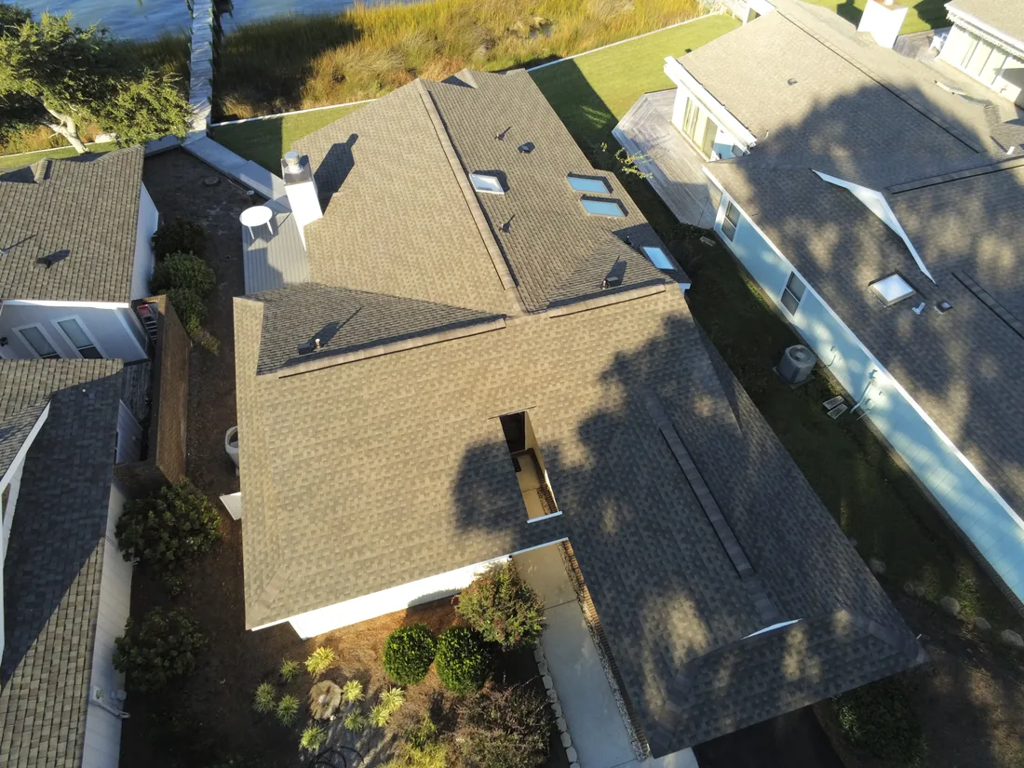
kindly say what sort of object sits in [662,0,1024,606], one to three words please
house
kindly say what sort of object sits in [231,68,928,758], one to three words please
house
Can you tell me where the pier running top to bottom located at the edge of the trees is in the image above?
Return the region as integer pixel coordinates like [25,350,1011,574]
[174,0,220,143]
